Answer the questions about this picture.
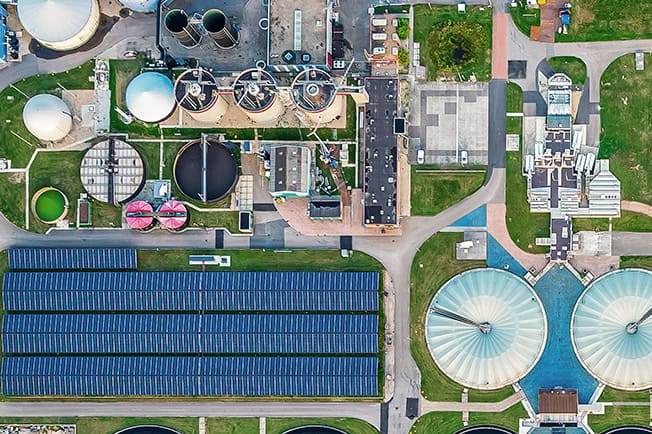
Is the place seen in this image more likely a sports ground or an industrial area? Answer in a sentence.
The picture captures an industrial area.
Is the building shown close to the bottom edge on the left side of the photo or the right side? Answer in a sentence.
The building shown close to the bottom edge appears in the right half of the scene.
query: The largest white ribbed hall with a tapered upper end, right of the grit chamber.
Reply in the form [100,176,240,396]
[585,160,620,216]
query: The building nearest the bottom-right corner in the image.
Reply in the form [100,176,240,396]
[535,383,579,413]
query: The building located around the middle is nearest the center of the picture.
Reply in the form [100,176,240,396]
[309,197,341,218]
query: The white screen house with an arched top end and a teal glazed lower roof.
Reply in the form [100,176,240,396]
[543,73,572,130]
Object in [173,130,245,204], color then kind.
black storage tank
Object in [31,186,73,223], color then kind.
green storage tank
